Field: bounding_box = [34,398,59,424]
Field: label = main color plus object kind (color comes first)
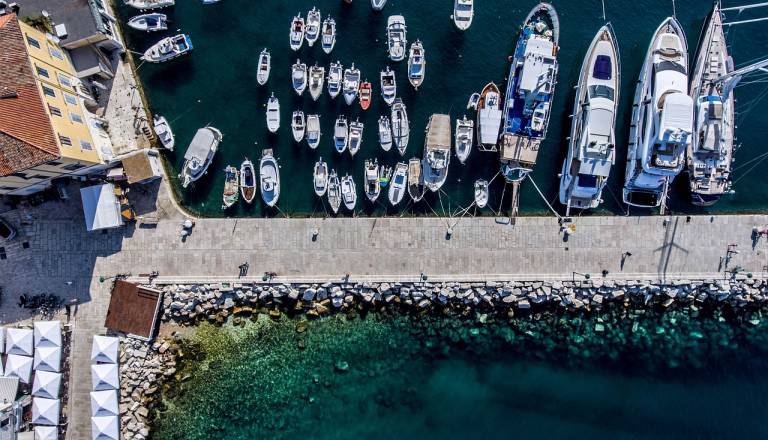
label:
white umbrella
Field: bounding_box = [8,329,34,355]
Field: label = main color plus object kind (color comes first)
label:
white umbrella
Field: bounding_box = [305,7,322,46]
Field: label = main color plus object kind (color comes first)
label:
white boat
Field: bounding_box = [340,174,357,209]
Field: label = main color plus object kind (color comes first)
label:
white boat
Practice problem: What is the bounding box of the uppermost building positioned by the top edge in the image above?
[0,0,122,82]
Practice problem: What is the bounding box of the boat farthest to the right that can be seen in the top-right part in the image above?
[684,0,768,209]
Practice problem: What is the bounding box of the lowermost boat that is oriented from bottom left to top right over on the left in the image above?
[178,125,226,188]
